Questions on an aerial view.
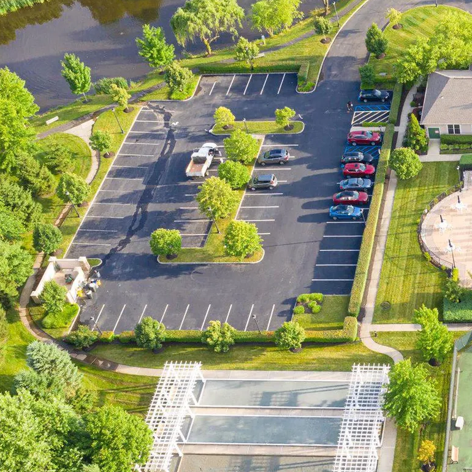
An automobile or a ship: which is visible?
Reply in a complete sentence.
Visible in the photo is an automobile.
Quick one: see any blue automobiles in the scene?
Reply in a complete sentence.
Yes, you can see a blue automobile in this photo.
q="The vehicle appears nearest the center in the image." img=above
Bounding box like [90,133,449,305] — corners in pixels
[247,173,278,189]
